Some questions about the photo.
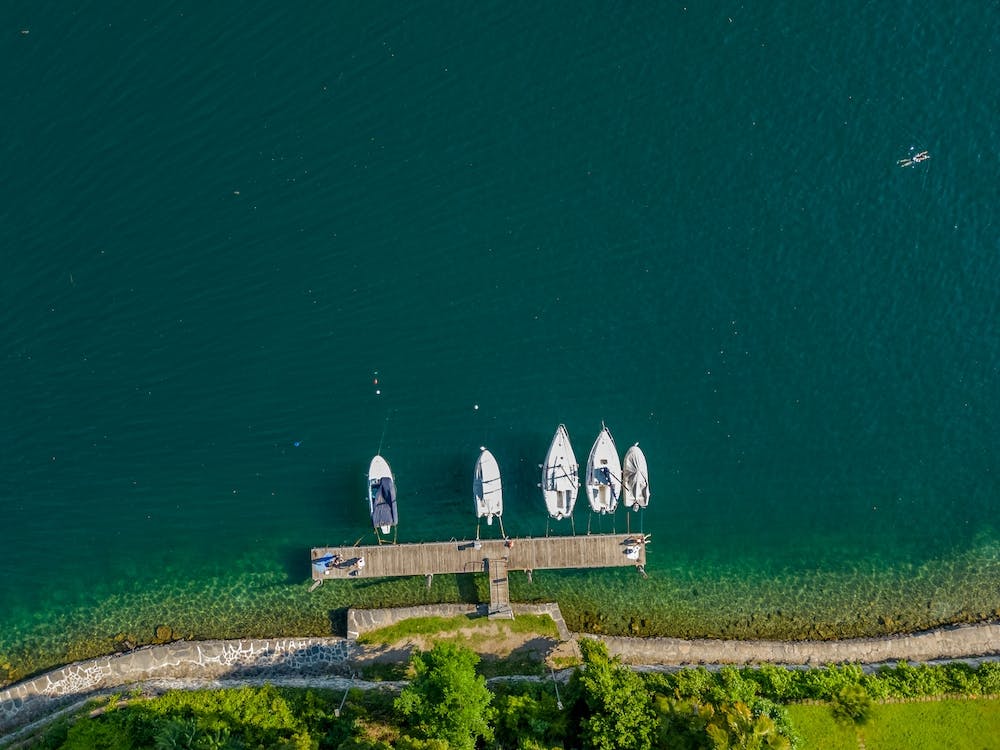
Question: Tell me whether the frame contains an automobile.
No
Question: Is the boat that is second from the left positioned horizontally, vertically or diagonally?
vertically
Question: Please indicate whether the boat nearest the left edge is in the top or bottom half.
bottom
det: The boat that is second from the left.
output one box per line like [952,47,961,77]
[473,444,501,525]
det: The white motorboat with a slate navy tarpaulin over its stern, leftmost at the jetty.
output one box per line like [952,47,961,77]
[365,456,400,537]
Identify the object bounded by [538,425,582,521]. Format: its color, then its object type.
white boat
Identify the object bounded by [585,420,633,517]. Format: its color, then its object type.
white boat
